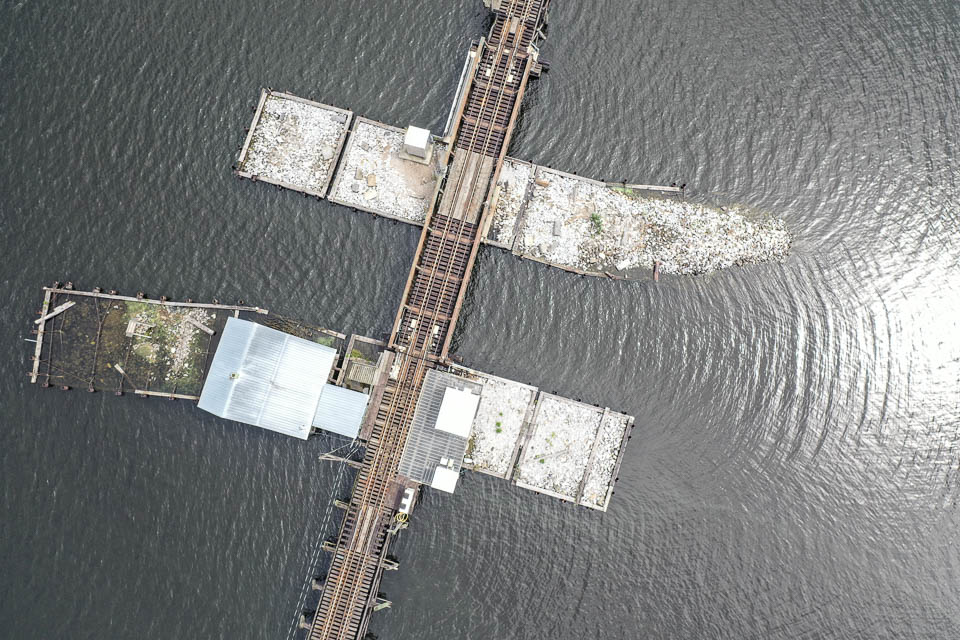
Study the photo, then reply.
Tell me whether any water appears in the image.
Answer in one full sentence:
Yes, the picture does contain water.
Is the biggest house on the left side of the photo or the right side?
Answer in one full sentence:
It is on the left.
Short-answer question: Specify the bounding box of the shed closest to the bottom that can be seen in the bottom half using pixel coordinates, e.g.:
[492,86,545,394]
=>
[431,461,460,493]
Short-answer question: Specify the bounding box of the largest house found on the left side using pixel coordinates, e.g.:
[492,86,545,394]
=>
[199,317,338,439]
